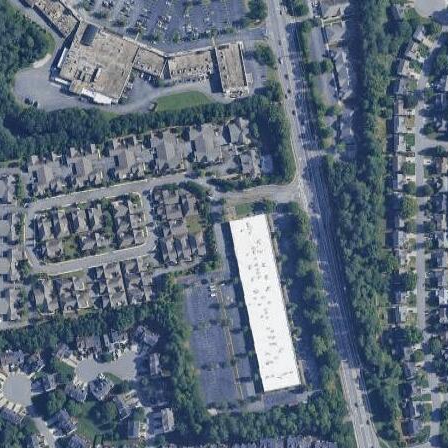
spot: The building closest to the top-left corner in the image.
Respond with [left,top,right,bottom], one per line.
[24,0,81,39]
